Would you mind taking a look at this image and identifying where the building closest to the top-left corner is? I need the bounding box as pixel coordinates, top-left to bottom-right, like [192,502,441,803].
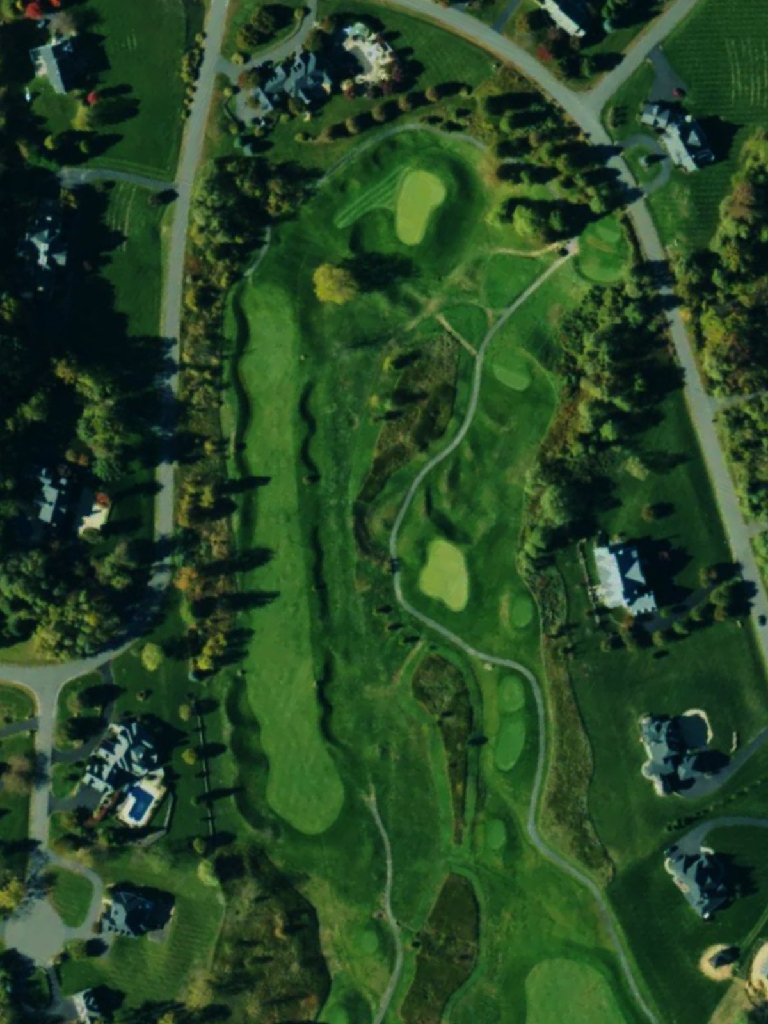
[30,37,76,97]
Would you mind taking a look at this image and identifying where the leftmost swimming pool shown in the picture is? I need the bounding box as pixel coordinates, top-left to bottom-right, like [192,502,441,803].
[128,785,154,822]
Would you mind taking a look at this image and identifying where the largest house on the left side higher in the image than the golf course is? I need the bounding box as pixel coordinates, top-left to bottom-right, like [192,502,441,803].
[253,52,331,113]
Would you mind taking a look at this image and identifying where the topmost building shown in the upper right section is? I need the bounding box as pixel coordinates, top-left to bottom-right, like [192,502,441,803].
[542,0,590,36]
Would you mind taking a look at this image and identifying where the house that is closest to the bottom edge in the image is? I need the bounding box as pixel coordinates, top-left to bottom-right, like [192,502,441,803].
[74,991,103,1024]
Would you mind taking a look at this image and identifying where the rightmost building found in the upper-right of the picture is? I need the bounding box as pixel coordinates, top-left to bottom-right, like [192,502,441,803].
[641,104,715,176]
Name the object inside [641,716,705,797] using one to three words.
house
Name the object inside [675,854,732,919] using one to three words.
house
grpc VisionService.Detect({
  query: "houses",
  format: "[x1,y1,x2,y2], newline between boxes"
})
[641,104,715,176]
[30,37,76,97]
[36,472,70,526]
[102,890,161,938]
[82,724,155,793]
[594,544,658,618]
[542,0,590,36]
[253,52,331,113]
[74,991,103,1024]
[641,716,705,797]
[675,854,732,919]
